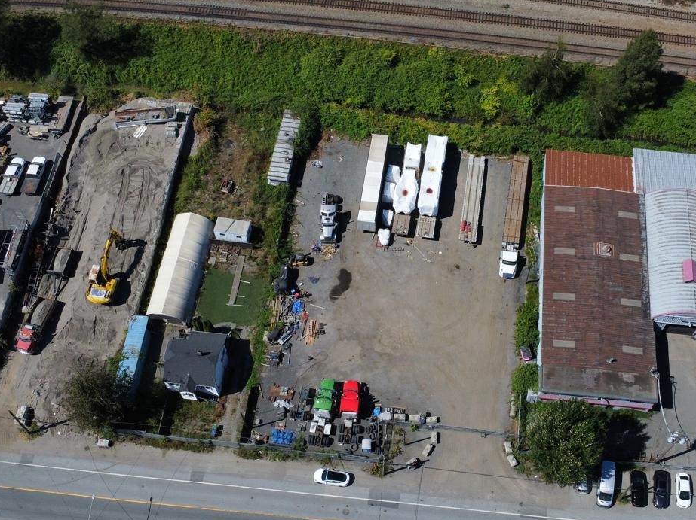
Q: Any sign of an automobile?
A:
Yes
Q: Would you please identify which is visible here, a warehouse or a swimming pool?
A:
warehouse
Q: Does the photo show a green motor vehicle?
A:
Yes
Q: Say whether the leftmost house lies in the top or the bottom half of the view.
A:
bottom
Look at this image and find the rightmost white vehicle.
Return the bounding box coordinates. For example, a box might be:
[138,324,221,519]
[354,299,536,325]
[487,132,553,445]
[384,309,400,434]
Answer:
[674,472,694,512]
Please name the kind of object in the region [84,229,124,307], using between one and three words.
work vehicle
